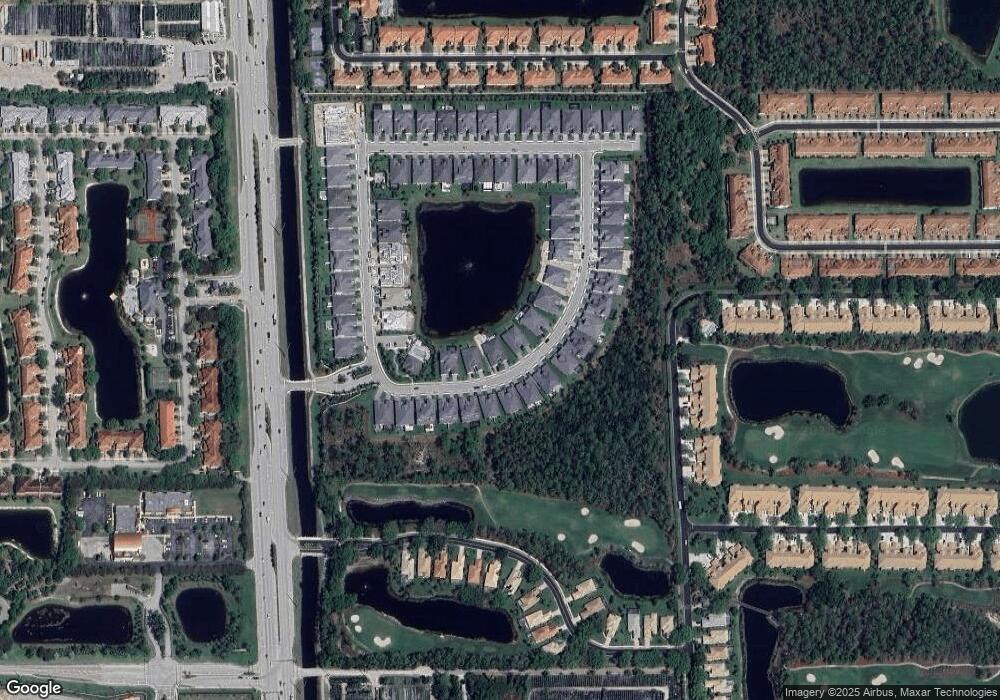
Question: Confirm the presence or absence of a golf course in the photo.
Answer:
Yes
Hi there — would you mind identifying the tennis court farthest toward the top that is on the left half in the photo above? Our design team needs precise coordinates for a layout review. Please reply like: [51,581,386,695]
[137,208,166,243]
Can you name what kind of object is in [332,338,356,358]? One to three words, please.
house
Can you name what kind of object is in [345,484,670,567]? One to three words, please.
golf course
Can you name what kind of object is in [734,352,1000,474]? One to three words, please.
golf course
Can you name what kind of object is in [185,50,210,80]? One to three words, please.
shed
